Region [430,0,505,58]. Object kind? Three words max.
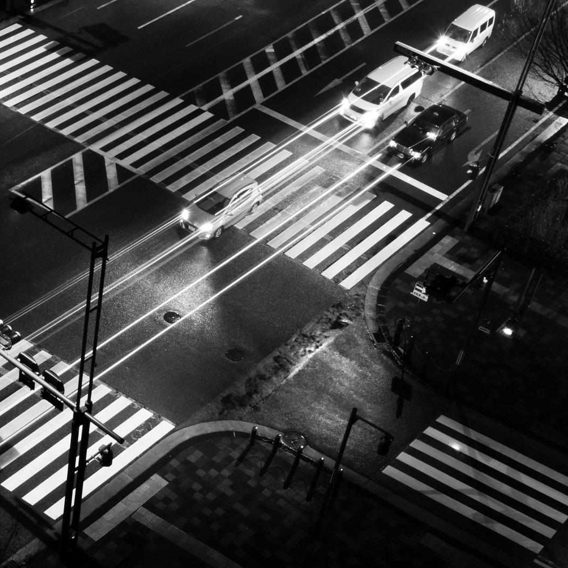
van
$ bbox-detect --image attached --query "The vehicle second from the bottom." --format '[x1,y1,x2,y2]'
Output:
[383,95,469,161]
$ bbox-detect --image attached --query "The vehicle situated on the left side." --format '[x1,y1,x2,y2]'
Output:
[177,165,266,239]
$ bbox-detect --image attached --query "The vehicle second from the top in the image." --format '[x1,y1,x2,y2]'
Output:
[332,53,420,126]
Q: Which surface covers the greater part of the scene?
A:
paved ground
